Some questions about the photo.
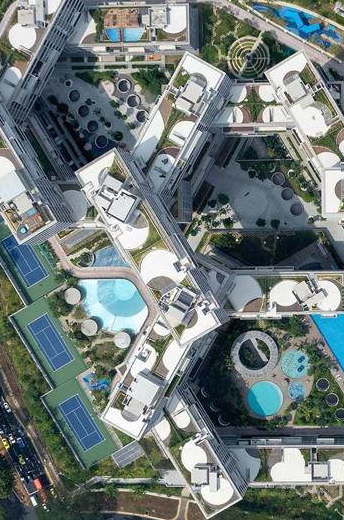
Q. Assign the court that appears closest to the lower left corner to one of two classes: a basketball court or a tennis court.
tennis court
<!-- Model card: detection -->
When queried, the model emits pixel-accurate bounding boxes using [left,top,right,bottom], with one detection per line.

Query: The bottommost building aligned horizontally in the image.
[218,435,344,485]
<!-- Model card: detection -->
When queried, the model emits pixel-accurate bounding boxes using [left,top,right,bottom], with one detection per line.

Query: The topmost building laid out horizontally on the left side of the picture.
[54,4,196,62]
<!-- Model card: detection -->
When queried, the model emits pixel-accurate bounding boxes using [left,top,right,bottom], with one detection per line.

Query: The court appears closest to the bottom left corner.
[37,378,121,472]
